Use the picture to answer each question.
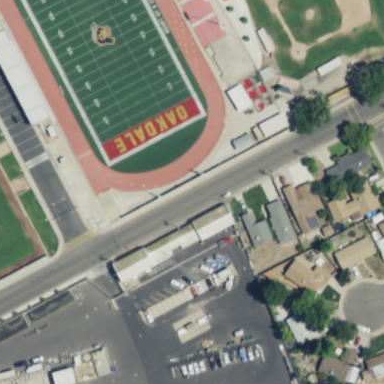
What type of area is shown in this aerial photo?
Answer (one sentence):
The picture captures a sports ground.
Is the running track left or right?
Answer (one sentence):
The running track appears in the left half of the scene.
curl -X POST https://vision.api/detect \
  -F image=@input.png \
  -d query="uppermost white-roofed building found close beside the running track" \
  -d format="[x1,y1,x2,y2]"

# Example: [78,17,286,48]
[228,83,254,112]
